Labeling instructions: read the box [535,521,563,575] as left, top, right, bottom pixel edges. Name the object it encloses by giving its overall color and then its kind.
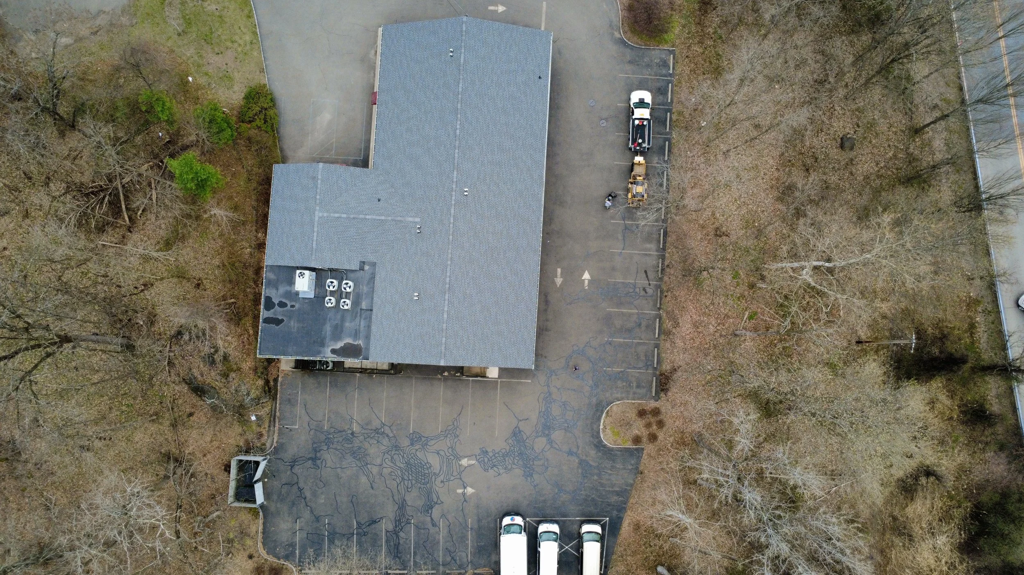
white van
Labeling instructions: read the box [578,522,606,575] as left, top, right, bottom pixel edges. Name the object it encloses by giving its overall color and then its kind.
white van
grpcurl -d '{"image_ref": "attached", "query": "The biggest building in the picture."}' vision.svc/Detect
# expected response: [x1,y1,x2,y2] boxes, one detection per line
[256,15,554,370]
